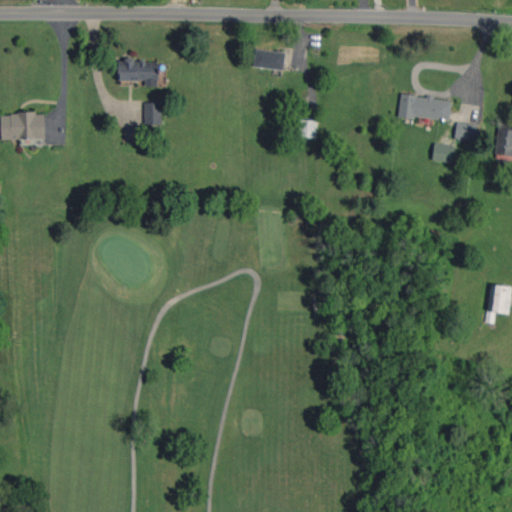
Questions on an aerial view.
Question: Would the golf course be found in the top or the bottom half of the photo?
bottom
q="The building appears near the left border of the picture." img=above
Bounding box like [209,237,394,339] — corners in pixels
[1,113,45,140]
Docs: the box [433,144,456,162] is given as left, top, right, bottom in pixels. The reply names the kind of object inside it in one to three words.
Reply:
shed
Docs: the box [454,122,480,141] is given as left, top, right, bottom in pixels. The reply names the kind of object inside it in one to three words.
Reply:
building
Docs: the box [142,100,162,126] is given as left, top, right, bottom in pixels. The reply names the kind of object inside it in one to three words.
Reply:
building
